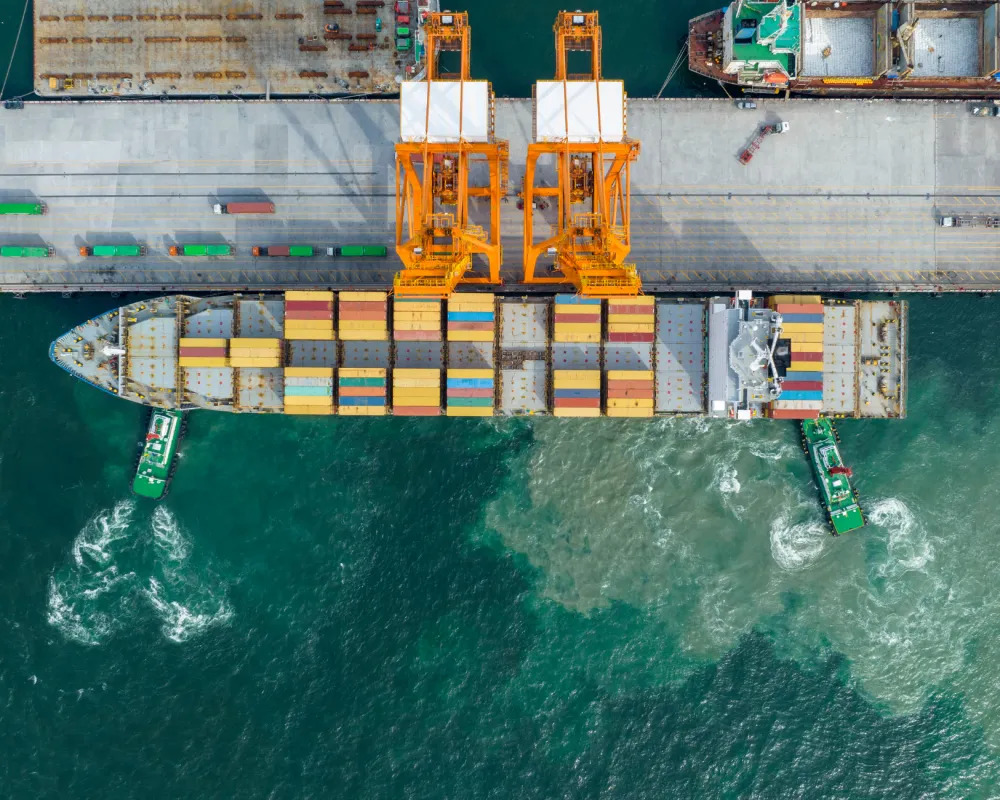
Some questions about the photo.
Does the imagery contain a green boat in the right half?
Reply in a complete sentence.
Yes, the scene does show a green boat in the right half.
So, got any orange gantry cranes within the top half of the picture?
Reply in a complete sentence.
Yes, I can see an orange gantry crane within the top half of the picture.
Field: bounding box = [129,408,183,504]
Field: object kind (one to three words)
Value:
boat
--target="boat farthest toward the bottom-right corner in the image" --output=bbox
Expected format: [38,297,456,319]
[802,420,868,538]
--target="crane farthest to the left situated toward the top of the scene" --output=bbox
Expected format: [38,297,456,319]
[383,10,510,308]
